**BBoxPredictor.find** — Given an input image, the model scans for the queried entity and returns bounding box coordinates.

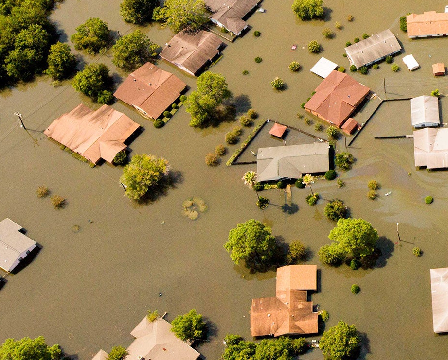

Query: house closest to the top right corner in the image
[407,11,448,39]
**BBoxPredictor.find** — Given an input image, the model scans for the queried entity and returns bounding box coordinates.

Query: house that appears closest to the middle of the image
[256,142,328,183]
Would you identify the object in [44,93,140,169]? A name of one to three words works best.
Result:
house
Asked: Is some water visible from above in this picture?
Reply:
Yes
